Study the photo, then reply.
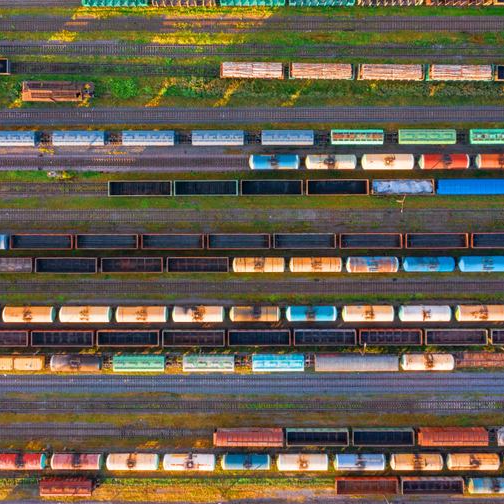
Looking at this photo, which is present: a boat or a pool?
boat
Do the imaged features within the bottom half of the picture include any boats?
Yes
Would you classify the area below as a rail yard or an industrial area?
rail yard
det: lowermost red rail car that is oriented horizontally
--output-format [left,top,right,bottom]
[39,476,97,496]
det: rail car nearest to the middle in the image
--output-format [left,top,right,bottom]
[230,255,287,272]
